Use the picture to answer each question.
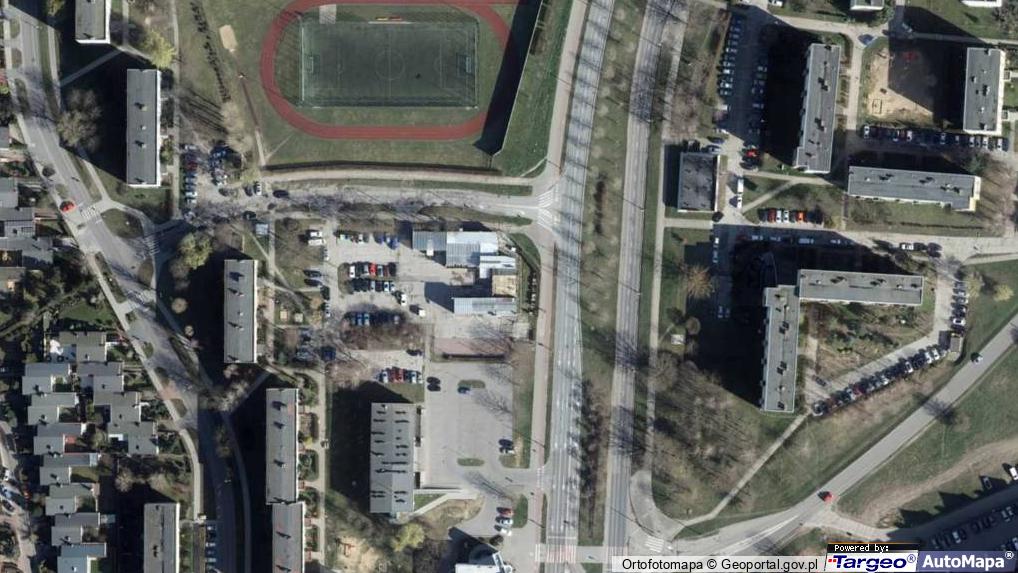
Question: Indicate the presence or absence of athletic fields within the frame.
Yes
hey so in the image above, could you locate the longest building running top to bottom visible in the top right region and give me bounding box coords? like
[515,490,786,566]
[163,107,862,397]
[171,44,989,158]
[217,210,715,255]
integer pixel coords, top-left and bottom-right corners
[796,44,844,176]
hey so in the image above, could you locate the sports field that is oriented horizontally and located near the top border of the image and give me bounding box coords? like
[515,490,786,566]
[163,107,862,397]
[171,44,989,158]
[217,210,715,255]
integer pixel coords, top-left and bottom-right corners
[302,22,476,106]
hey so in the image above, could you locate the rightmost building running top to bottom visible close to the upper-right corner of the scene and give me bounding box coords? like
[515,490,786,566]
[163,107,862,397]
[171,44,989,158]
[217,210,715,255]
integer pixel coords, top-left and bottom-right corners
[963,48,1004,135]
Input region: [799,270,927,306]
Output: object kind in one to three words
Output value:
building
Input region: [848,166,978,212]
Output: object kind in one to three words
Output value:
building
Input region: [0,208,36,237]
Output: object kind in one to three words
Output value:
house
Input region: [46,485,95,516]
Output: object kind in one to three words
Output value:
house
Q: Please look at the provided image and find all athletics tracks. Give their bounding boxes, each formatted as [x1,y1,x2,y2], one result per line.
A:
[260,0,532,140]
